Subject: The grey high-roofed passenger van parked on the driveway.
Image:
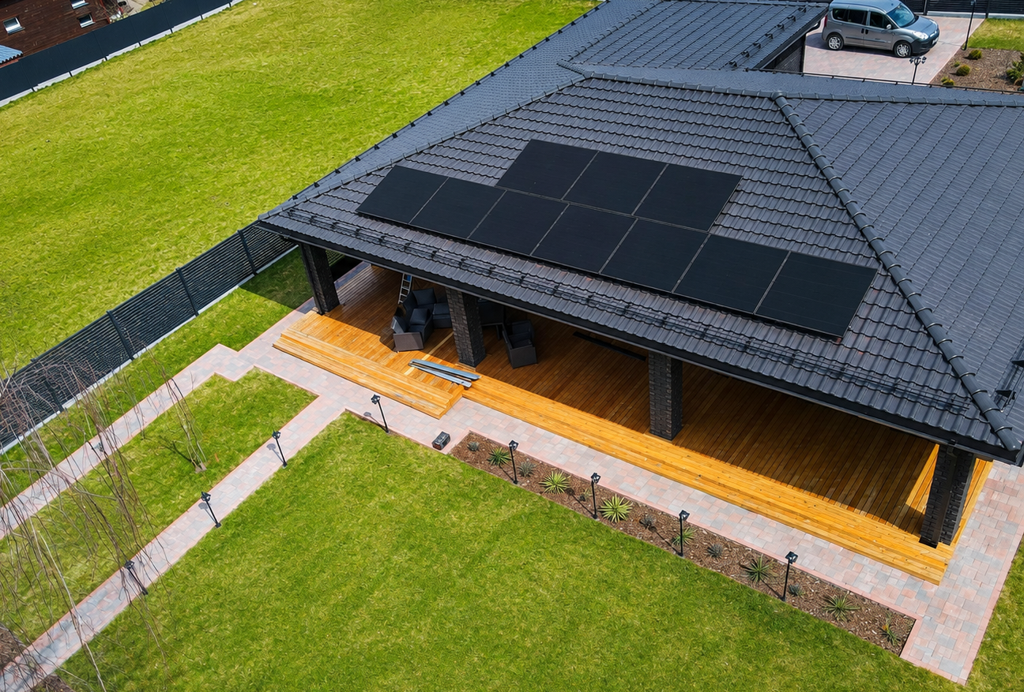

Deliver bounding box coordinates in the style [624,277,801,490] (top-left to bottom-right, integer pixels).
[816,0,942,56]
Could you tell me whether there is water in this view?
No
